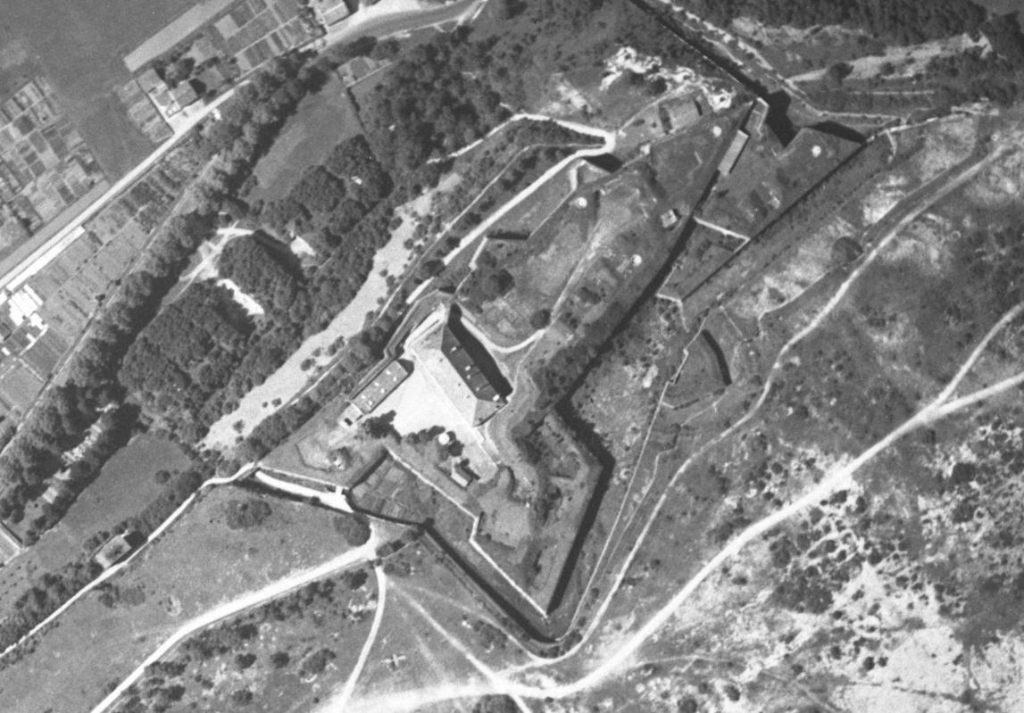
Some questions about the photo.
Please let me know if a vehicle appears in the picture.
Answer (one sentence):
No, the photo shows no vehicle.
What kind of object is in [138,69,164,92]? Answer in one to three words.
barn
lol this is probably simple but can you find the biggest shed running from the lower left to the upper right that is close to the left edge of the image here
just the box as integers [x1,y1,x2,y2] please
[8,226,86,292]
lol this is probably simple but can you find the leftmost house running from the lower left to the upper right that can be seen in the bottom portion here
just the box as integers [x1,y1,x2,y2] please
[97,536,132,568]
